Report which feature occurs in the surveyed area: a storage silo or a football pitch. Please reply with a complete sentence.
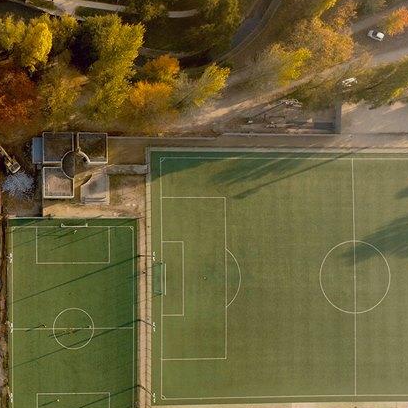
The one in the frame is a football pitch.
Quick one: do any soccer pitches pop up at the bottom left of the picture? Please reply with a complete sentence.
Yes, I can see a soccer pitch at the bottom left of the picture.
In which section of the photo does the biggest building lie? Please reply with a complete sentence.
The biggest building is in the left part of the image.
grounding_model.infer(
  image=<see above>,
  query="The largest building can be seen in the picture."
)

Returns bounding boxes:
[41,133,107,199]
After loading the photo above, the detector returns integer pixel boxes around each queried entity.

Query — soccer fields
[151,153,408,404]
[8,219,137,408]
